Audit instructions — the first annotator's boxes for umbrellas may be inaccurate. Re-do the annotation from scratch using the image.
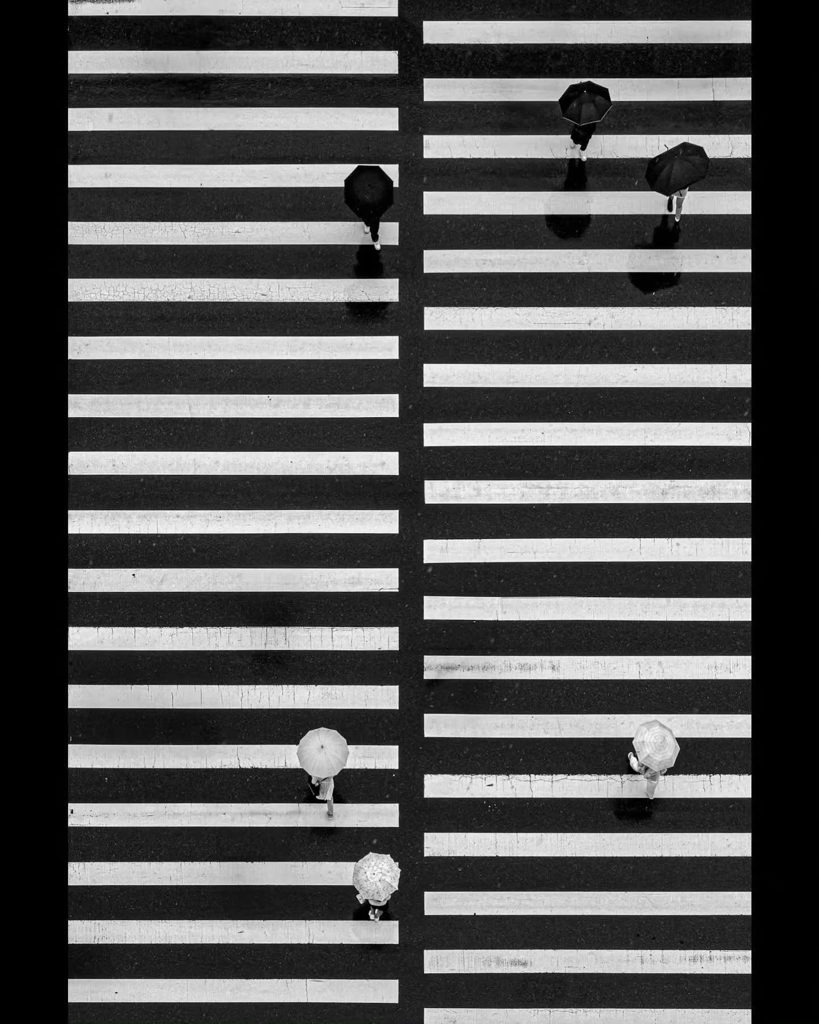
[353,852,401,901]
[644,141,709,197]
[632,719,680,771]
[297,728,350,778]
[344,166,394,218]
[559,81,613,128]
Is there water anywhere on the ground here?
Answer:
No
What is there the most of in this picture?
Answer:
paved ground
